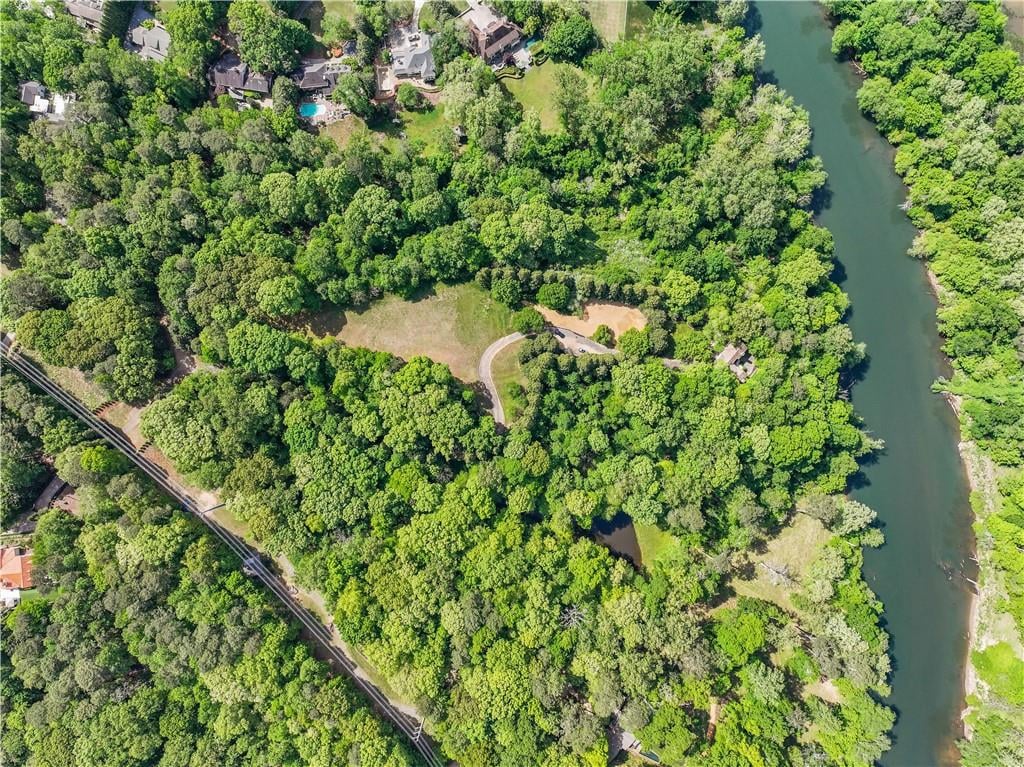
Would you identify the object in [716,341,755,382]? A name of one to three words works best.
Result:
building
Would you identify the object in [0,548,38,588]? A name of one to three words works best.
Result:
house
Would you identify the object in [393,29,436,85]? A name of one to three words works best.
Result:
house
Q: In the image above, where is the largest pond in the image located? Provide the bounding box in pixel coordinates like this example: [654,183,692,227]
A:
[596,509,643,576]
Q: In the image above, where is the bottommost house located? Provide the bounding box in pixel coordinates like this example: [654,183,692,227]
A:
[618,728,642,751]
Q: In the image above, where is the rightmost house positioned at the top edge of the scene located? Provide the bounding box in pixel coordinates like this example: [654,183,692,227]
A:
[467,17,523,68]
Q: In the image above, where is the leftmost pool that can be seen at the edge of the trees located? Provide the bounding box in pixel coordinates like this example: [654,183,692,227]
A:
[298,102,326,118]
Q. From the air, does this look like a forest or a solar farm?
forest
